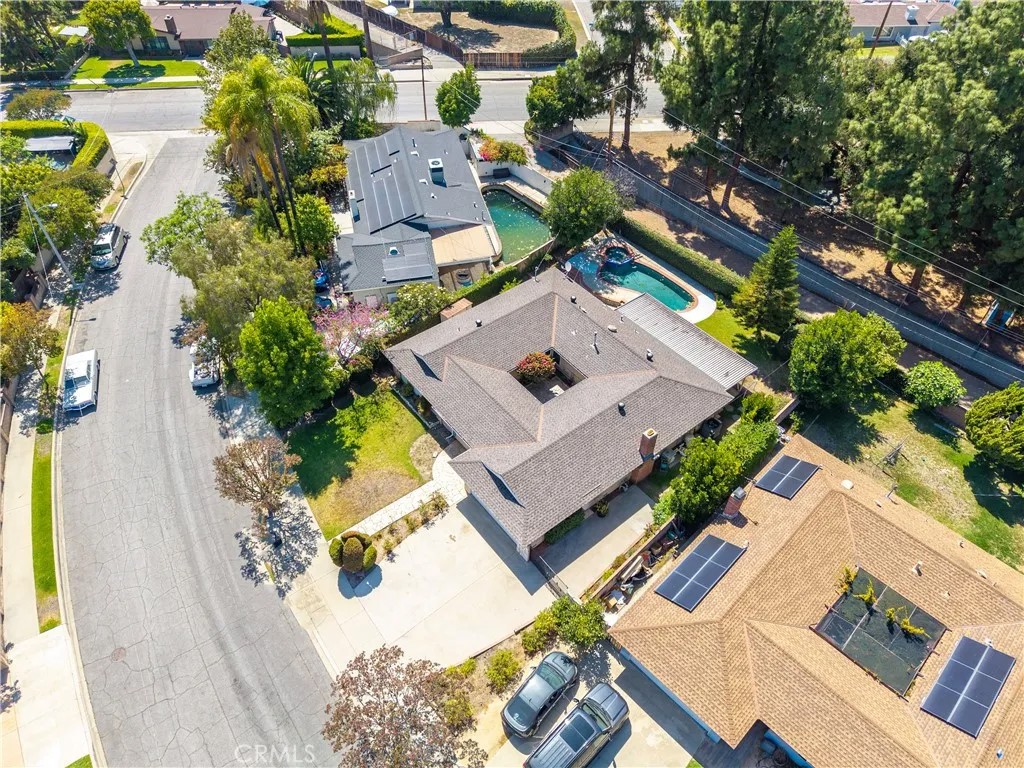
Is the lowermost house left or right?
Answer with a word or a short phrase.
right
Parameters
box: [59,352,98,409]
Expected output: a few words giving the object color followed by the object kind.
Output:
white car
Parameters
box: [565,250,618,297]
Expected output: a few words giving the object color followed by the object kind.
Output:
blue swimming pool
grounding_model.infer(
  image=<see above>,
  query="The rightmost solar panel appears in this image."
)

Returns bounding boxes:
[923,636,1021,738]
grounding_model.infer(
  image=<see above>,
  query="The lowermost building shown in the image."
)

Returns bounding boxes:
[608,433,1024,768]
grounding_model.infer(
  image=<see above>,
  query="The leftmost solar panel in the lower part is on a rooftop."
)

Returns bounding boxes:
[655,532,753,610]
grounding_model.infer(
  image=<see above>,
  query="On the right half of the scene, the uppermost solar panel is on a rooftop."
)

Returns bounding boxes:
[755,454,826,498]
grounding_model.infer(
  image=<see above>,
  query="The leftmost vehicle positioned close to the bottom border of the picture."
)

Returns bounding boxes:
[503,652,579,742]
